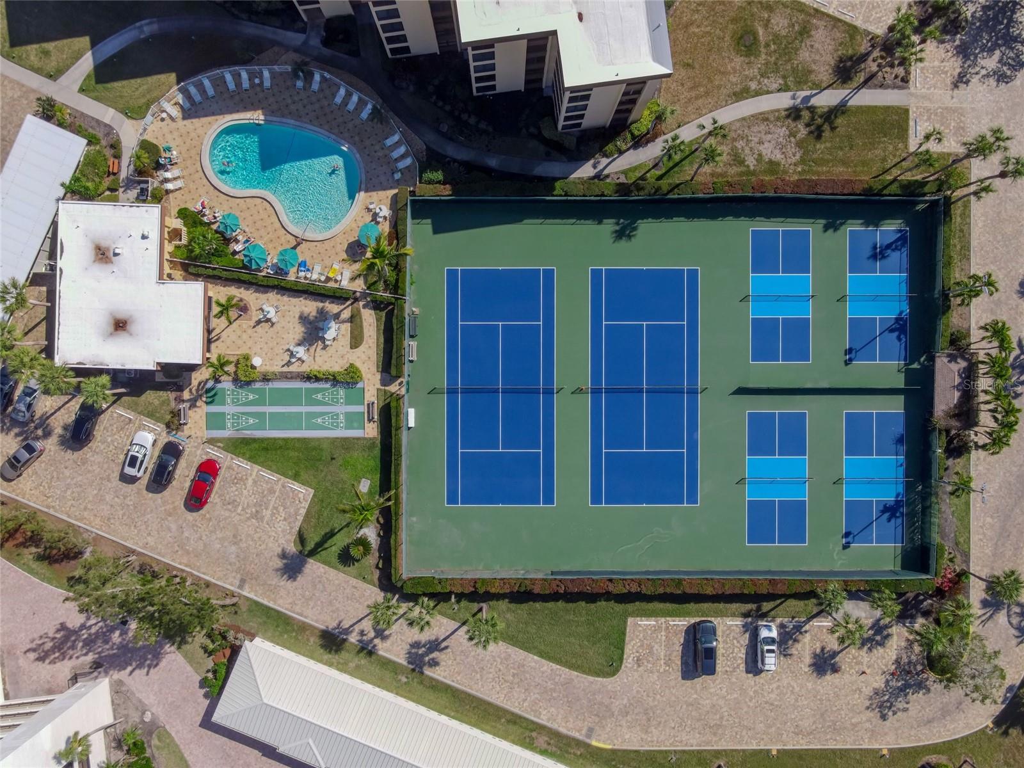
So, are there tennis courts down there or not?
Yes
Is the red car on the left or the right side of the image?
left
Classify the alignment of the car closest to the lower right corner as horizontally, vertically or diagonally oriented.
vertically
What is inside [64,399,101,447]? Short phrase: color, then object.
black car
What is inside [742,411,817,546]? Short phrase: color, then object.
blue sports court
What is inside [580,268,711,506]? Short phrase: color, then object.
blue tennis court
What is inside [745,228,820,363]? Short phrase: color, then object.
blue sports court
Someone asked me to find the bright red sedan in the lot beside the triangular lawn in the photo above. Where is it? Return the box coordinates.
[185,460,220,511]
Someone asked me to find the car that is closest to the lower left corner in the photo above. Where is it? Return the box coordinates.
[1,440,46,480]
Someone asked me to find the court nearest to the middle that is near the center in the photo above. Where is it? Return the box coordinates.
[436,268,565,506]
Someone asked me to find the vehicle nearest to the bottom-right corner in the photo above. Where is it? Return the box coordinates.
[755,624,779,672]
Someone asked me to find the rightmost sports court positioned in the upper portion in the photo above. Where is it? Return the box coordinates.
[843,228,919,363]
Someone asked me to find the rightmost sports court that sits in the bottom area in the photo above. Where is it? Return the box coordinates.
[839,411,915,546]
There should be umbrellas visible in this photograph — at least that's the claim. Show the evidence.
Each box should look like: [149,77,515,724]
[360,224,381,245]
[155,145,171,157]
[278,248,299,270]
[245,245,267,268]
[219,214,242,236]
